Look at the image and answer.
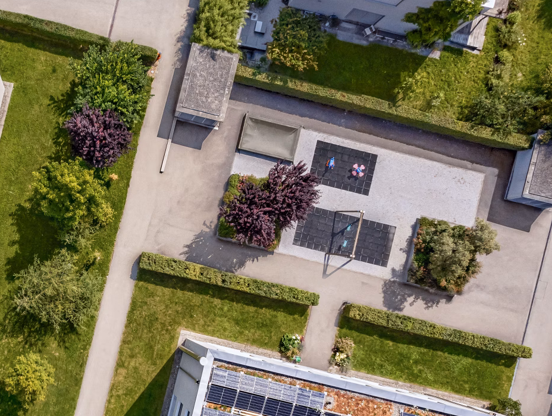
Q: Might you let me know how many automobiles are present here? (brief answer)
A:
0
